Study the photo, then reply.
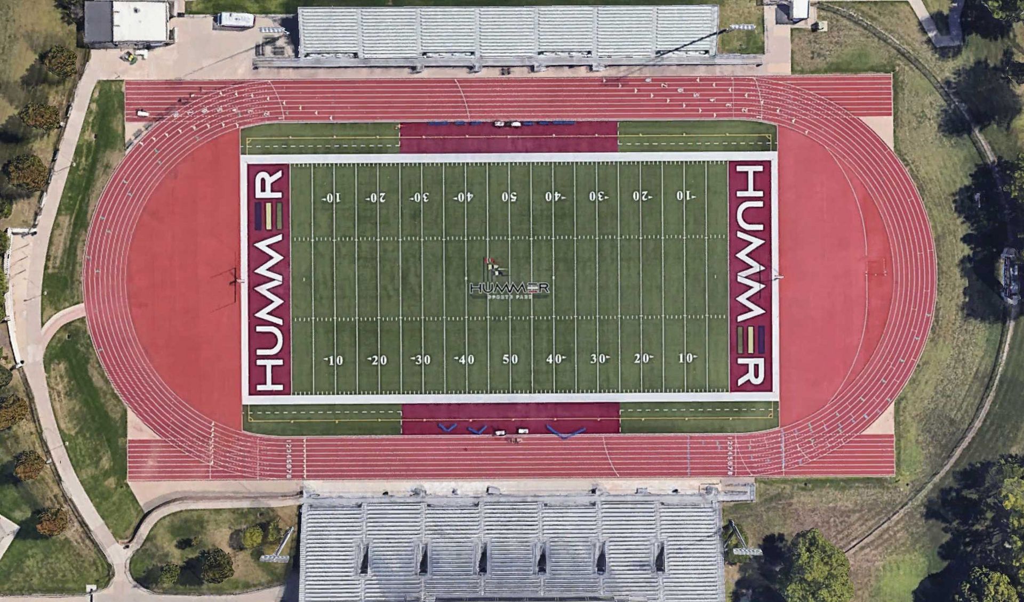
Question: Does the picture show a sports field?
Yes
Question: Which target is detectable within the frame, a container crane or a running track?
running track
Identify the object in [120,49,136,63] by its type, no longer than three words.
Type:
vehicle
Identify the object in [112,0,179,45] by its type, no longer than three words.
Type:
building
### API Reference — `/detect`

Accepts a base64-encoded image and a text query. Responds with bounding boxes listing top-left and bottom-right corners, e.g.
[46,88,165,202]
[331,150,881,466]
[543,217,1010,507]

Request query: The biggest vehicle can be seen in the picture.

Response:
[217,12,253,27]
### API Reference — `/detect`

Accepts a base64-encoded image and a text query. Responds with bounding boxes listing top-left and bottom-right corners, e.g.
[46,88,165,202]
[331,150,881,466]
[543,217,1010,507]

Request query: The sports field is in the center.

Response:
[240,122,780,434]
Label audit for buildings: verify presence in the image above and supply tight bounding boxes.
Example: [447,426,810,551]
[112,0,179,45]
[790,0,809,18]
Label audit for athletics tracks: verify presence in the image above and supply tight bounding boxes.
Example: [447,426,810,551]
[83,76,936,480]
